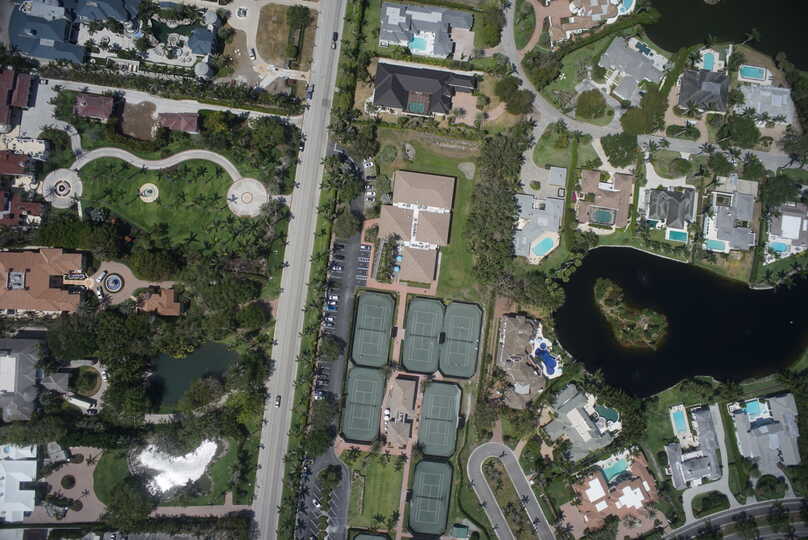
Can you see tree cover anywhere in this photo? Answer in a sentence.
Yes, tree cover shows up in the scene.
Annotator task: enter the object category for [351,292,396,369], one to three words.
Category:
tennis court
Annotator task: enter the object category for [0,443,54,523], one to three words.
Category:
house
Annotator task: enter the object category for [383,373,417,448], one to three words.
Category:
building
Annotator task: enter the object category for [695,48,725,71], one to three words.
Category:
swimming pool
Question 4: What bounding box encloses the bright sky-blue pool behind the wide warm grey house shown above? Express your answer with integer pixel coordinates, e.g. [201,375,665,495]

[731,399,768,422]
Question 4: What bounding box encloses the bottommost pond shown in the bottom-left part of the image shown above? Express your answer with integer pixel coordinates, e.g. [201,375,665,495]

[130,436,230,500]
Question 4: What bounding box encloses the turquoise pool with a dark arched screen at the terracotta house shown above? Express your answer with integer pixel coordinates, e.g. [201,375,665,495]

[600,453,635,482]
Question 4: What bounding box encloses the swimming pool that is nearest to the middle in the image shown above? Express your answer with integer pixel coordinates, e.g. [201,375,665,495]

[529,235,560,264]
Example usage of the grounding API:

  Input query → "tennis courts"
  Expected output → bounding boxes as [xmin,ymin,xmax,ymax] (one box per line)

[440,300,484,378]
[410,459,454,538]
[341,366,386,444]
[402,297,446,374]
[418,381,462,459]
[351,292,396,369]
